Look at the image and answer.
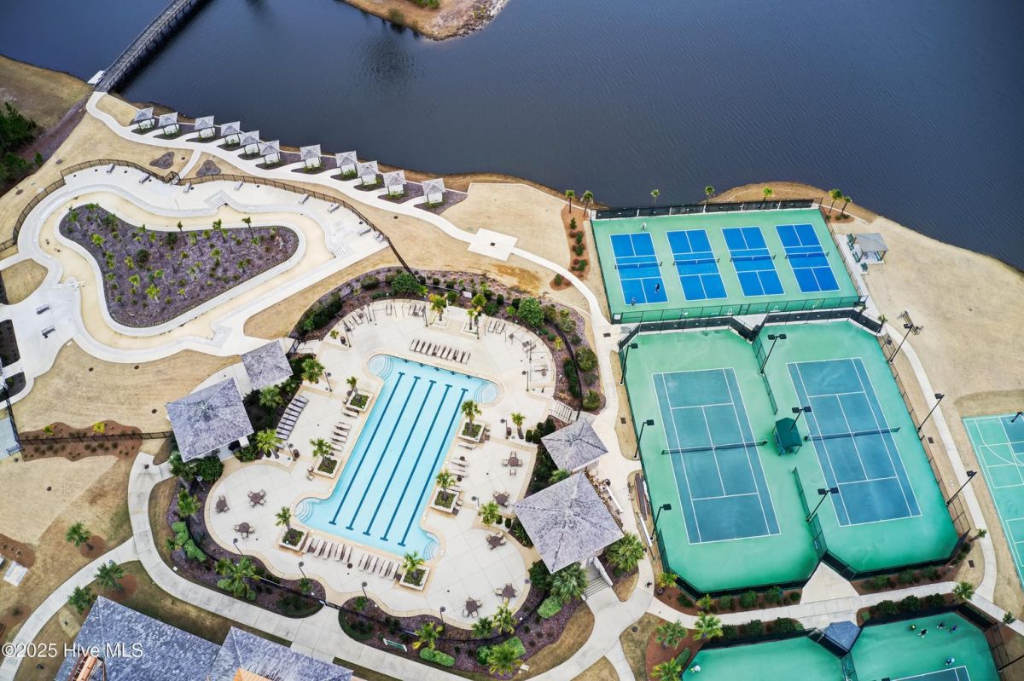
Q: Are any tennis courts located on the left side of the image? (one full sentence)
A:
No, on the left side of the image there is no tennis court.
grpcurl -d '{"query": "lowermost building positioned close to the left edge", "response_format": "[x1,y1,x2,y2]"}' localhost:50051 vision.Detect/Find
[43,596,222,681]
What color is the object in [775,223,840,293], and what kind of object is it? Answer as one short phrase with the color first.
blue sports court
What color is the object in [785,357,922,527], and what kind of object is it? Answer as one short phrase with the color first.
blue tennis court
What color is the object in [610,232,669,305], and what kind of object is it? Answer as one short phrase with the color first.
blue sports court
